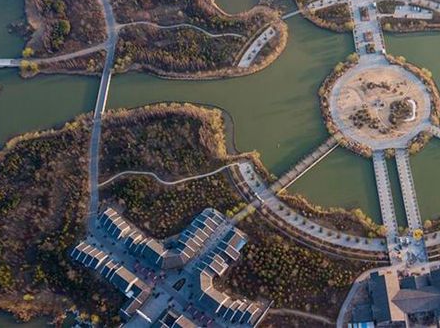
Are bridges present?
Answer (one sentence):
Yes, a bridge can be made out from above.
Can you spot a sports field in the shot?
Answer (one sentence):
No, there's no sports field here.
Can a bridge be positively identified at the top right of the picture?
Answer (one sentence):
Yes, a bridge appears at the top right of the picture.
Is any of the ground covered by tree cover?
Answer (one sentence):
Yes, tree cover can be seen from above here.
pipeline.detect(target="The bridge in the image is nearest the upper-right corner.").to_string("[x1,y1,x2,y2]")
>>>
[352,18,387,65]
